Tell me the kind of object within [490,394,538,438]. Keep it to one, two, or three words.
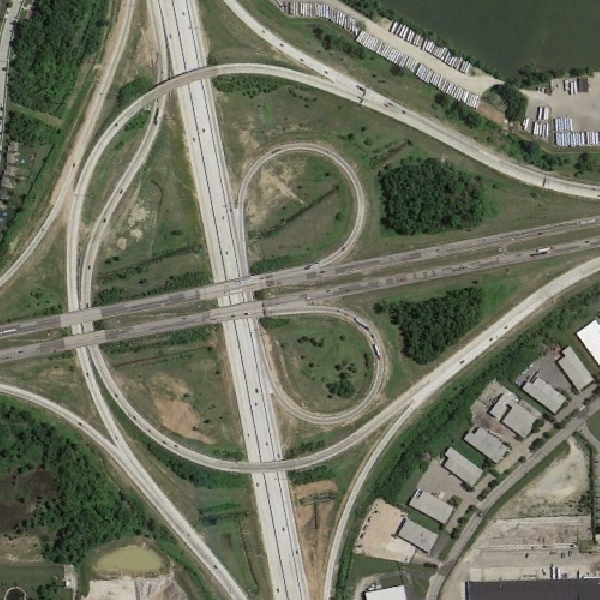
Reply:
building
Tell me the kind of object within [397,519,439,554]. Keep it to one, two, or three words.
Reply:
building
